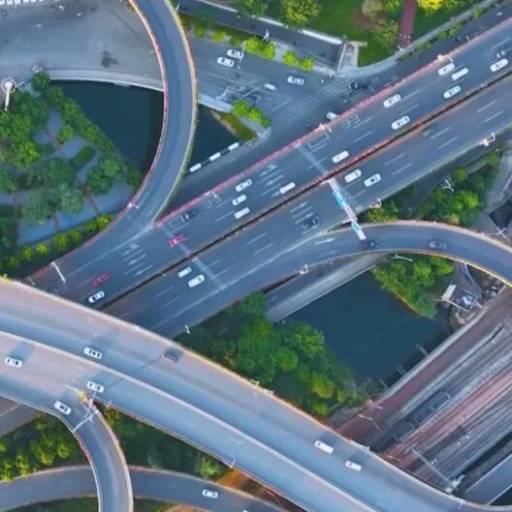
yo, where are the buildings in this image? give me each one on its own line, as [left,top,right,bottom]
[440,283,476,313]
[480,193,512,243]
